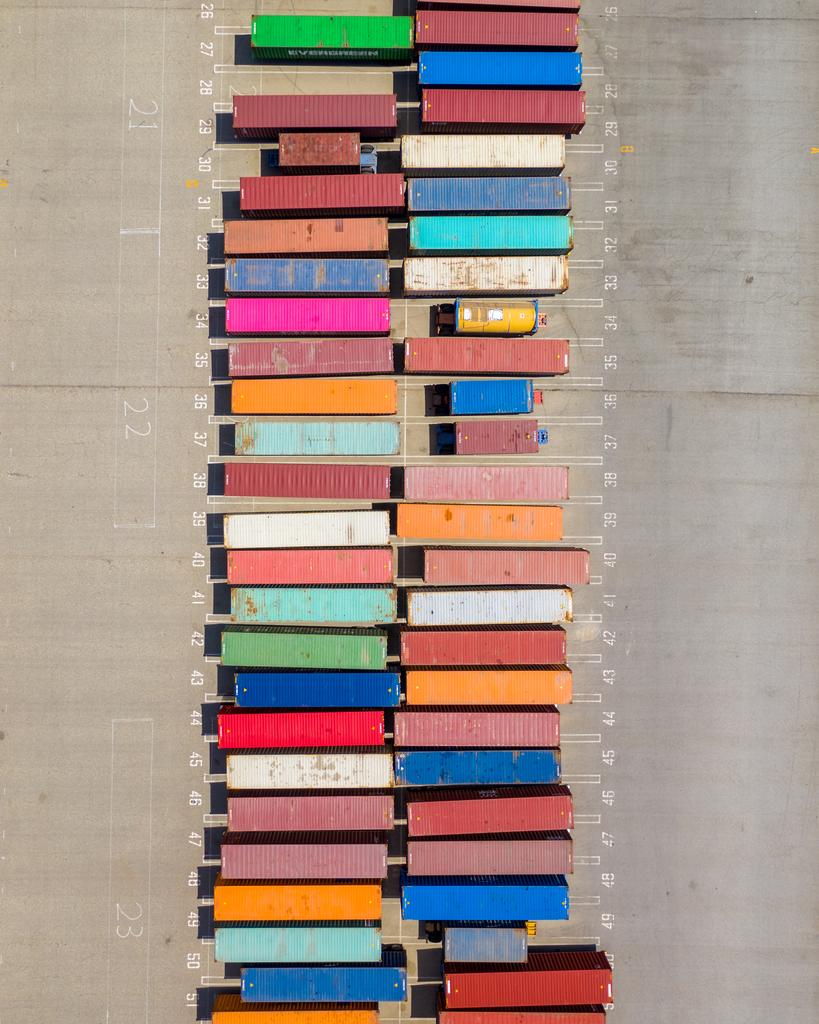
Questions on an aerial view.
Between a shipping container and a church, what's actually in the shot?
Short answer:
shipping container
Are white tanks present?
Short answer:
No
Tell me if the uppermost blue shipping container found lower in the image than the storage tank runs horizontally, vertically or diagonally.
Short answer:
horizontally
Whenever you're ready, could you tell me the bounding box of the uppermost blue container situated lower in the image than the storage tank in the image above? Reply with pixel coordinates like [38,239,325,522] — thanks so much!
[449,379,533,415]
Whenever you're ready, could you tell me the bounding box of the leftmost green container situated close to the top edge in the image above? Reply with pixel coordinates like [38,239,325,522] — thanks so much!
[251,15,415,60]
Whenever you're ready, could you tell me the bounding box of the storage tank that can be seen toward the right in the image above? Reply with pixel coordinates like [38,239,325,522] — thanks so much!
[458,303,535,333]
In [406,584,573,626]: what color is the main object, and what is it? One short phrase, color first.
white shipping container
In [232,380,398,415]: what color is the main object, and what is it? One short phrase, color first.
orange shipping container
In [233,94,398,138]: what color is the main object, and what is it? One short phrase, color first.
red shipping container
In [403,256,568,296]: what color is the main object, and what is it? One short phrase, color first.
white shipping container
